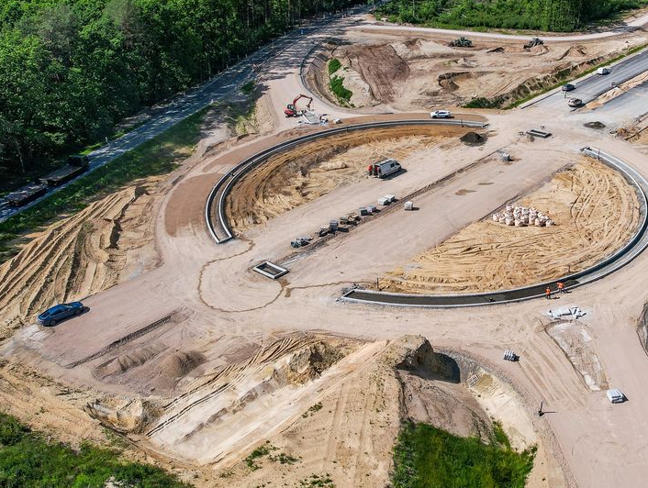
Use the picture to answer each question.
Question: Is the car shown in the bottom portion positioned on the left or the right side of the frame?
left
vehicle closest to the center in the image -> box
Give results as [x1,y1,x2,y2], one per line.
[365,154,405,178]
